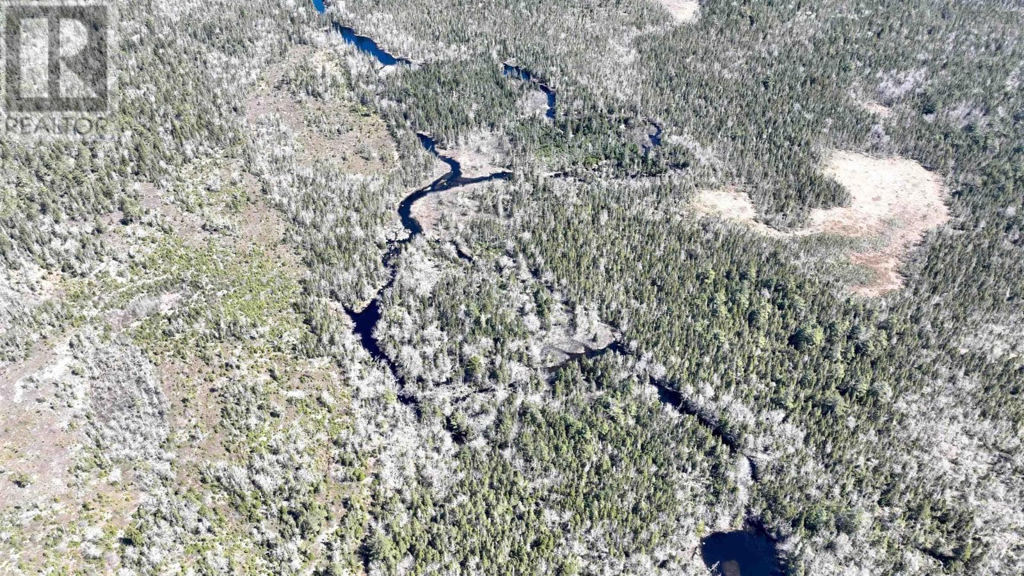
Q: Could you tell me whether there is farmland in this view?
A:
No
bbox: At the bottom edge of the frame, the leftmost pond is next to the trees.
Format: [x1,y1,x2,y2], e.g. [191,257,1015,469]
[700,521,789,576]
